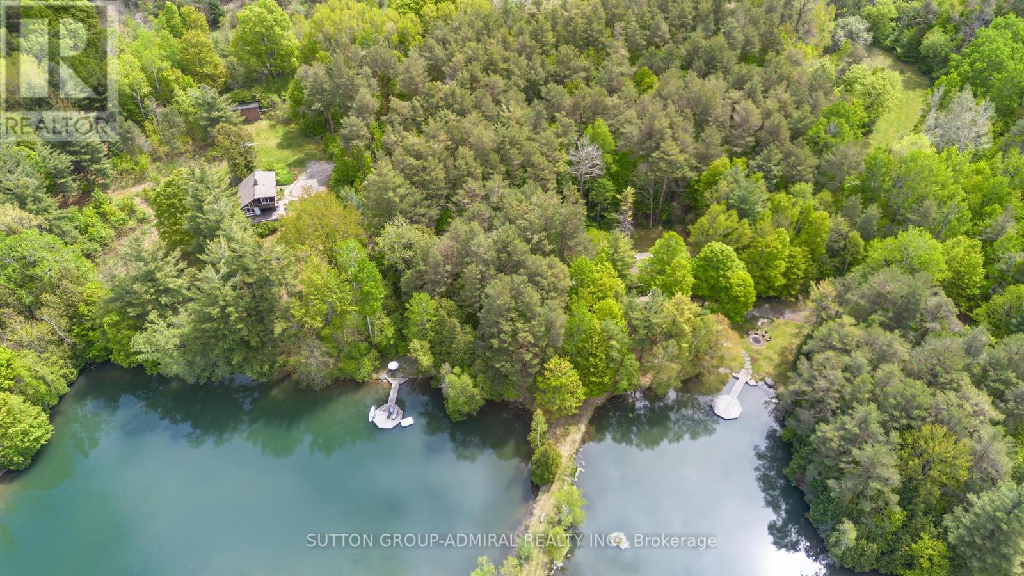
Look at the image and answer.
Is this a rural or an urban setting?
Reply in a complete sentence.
This place is rural.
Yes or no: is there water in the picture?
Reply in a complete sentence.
Yes, water shows up in the scene.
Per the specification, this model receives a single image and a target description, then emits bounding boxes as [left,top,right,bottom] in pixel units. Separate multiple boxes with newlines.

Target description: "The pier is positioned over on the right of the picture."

[711,369,751,420]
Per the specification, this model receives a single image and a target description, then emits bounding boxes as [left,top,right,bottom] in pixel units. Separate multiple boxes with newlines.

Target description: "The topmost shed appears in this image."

[232,100,262,124]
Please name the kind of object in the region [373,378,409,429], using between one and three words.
pier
